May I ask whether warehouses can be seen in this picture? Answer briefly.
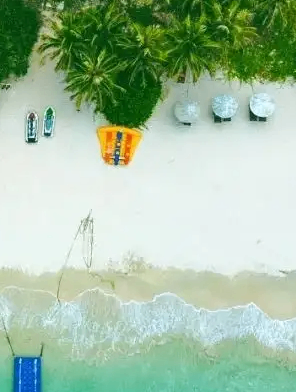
No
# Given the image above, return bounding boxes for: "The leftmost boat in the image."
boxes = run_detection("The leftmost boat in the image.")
[26,109,39,143]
